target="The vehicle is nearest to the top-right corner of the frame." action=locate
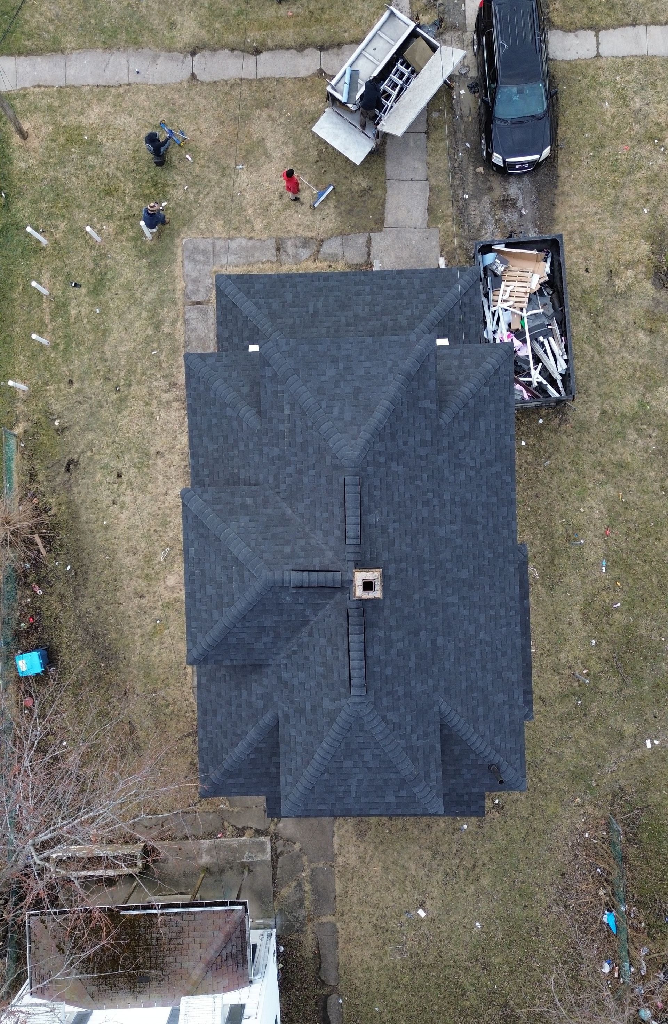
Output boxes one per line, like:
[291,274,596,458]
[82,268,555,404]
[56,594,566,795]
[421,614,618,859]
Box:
[472,0,565,175]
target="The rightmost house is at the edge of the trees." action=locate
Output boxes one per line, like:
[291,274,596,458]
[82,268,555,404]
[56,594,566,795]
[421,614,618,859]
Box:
[177,261,534,821]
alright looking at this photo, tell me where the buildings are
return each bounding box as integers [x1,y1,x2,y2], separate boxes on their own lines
[177,261,534,821]
[0,865,277,1024]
